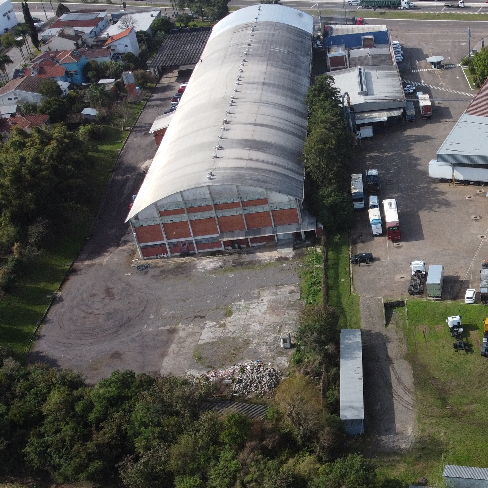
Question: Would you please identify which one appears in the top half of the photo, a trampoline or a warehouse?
warehouse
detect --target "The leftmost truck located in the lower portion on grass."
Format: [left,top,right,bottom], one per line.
[443,314,471,354]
